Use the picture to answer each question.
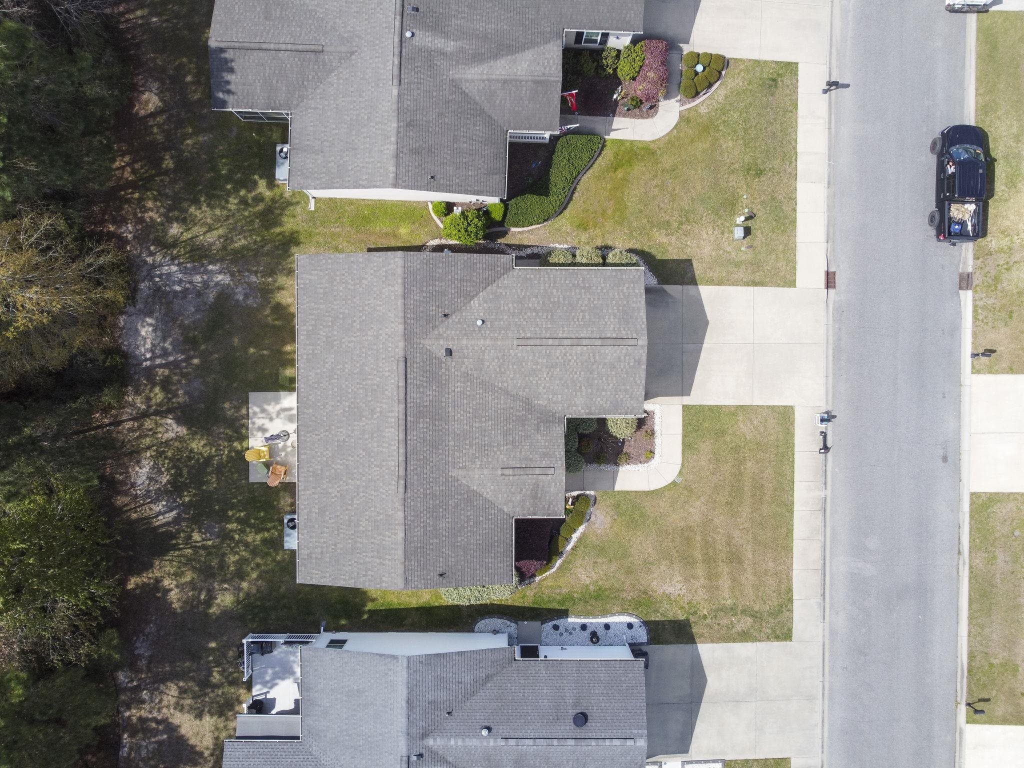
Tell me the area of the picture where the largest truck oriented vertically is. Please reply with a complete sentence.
The largest truck oriented vertically appears toward the top right of the photo.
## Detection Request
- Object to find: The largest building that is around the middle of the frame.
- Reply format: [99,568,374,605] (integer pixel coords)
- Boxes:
[297,251,648,590]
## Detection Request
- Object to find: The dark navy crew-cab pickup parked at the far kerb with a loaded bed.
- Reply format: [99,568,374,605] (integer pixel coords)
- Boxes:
[928,124,988,248]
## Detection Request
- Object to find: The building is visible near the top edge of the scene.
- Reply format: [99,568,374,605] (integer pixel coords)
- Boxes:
[208,0,645,203]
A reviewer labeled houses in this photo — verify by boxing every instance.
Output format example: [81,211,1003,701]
[208,0,645,203]
[297,251,648,590]
[221,629,649,768]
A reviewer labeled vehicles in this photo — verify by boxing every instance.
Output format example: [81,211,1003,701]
[928,124,988,248]
[941,0,988,13]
